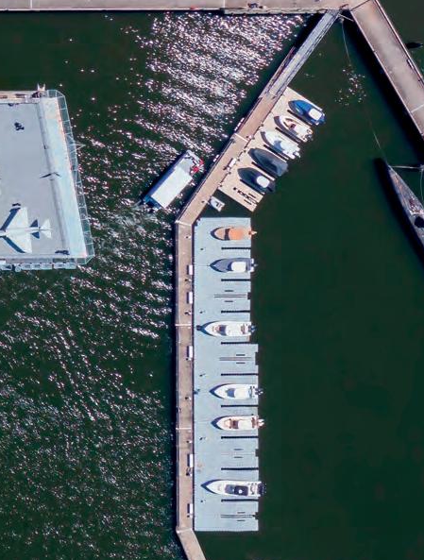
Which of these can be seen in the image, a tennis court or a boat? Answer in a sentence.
Of the two, only a boat appears.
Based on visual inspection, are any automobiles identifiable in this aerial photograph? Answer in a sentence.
No, this view has no automobile in it.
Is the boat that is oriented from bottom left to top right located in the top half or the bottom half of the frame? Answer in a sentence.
The boat that is oriented from bottom left to top right is in the top half of the image.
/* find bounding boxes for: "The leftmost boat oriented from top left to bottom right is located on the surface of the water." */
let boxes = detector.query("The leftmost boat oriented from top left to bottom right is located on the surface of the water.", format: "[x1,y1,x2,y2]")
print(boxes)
[209,196,225,210]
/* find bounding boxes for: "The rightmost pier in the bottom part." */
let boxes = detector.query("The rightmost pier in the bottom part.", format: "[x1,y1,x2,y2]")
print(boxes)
[194,216,258,531]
